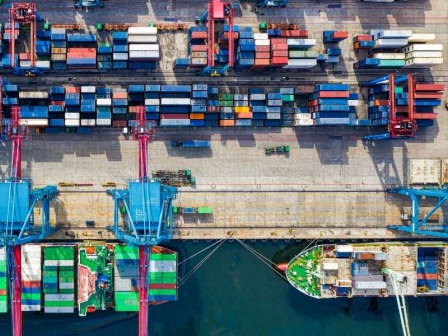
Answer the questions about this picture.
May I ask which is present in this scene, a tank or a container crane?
container crane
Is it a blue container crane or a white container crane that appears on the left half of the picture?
blue container crane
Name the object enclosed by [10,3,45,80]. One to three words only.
crane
